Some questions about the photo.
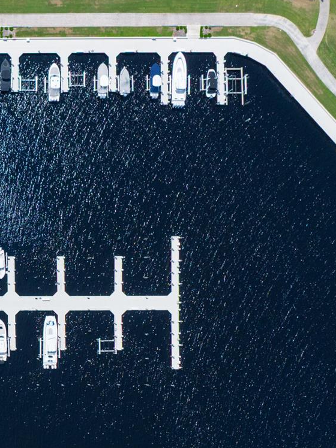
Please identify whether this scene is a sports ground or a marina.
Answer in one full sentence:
It's a marina.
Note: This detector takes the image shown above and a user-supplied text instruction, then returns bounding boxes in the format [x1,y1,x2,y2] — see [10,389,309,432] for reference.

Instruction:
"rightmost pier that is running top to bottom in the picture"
[211,54,228,105]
